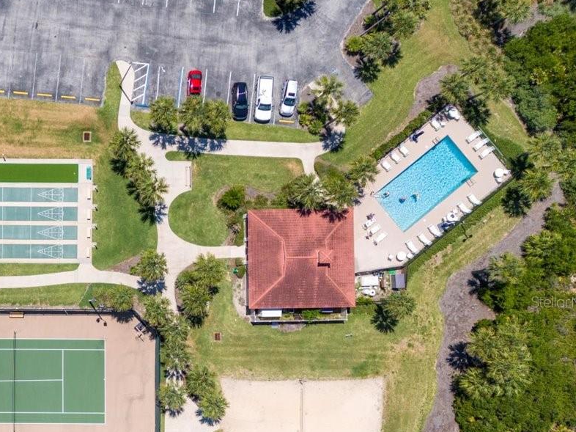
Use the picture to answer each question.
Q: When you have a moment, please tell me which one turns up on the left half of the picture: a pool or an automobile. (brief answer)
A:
automobile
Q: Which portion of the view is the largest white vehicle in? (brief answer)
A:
top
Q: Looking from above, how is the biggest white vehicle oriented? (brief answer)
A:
from top to bottom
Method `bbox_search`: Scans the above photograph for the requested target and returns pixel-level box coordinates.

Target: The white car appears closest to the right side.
[278,80,298,117]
